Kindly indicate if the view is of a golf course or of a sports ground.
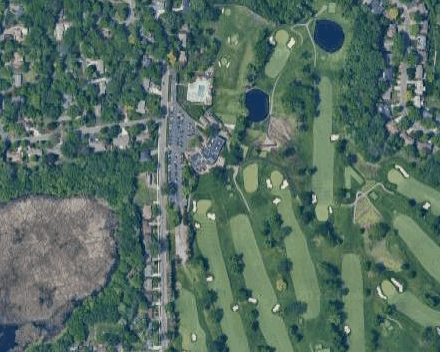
golf course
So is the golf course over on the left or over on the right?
right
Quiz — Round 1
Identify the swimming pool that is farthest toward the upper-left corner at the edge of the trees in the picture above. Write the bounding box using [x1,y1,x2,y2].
[187,77,211,105]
